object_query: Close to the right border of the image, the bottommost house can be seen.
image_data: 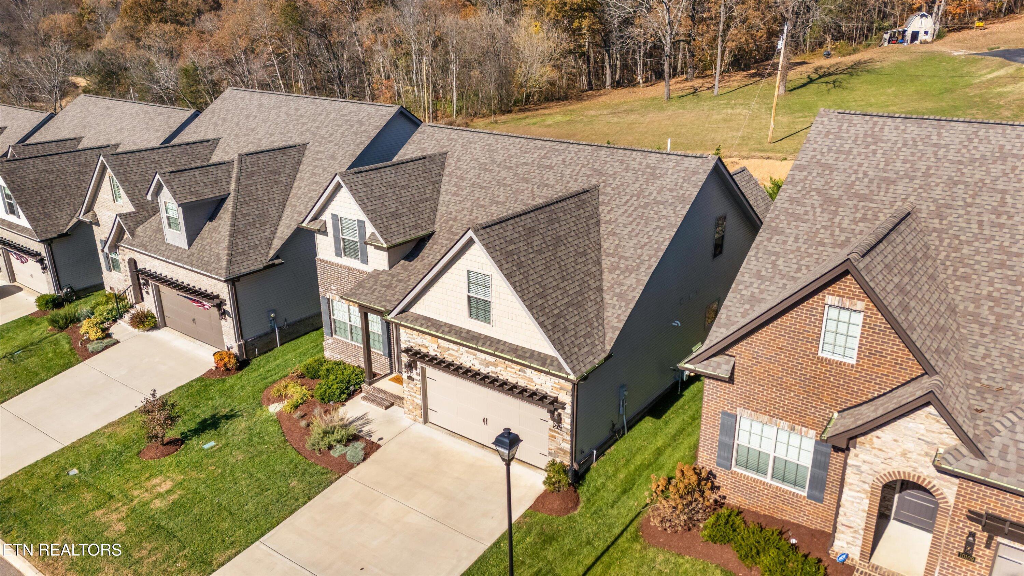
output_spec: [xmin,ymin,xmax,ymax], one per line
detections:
[678,105,1024,576]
